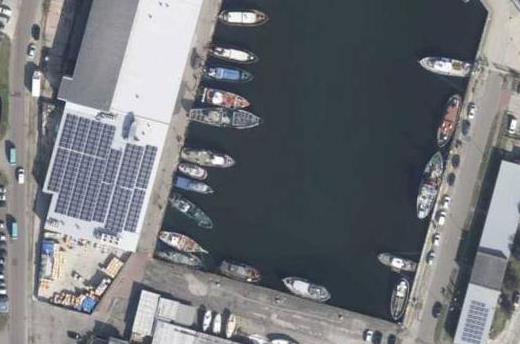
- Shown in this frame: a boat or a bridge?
boat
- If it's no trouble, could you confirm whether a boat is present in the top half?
Yes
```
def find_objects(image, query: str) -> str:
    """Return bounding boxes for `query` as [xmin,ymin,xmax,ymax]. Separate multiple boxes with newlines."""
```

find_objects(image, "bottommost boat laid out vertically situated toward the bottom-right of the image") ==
[393,277,411,320]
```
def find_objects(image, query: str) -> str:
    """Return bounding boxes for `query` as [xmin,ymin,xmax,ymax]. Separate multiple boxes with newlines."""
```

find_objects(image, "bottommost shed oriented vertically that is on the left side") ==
[132,290,162,338]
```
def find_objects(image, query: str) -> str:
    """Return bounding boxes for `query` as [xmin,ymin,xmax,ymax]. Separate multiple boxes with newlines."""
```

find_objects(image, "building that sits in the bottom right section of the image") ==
[454,159,520,344]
